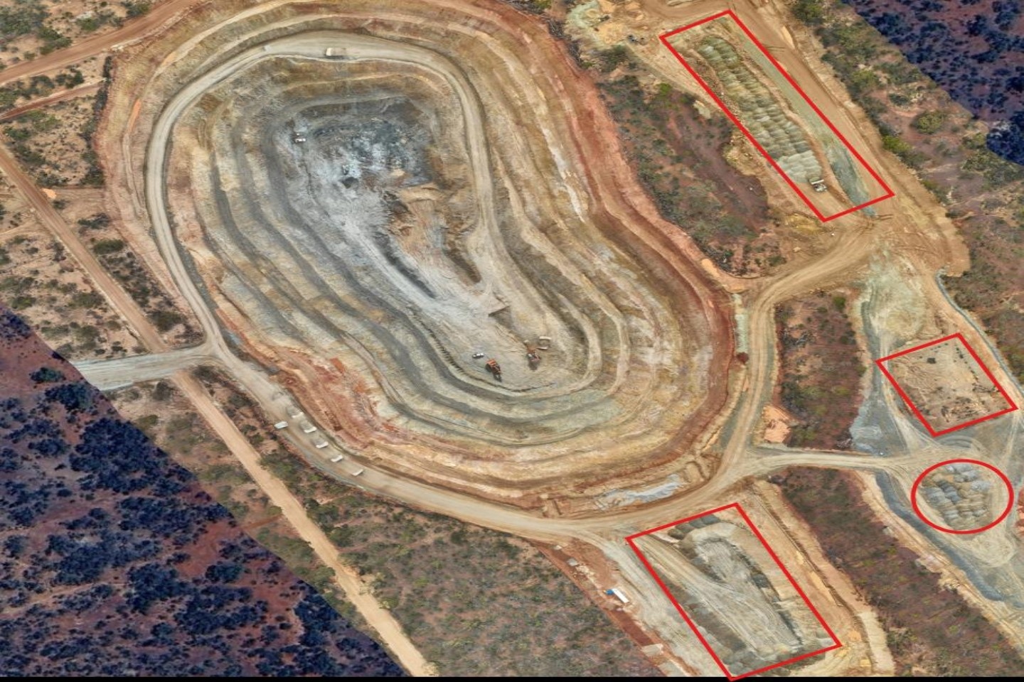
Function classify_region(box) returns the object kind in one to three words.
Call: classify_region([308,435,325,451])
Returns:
vehicle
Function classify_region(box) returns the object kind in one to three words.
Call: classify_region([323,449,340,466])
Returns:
vehicle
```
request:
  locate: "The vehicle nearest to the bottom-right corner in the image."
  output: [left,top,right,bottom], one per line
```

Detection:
[608,584,634,607]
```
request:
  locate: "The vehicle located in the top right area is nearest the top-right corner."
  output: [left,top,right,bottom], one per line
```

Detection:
[808,172,823,187]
